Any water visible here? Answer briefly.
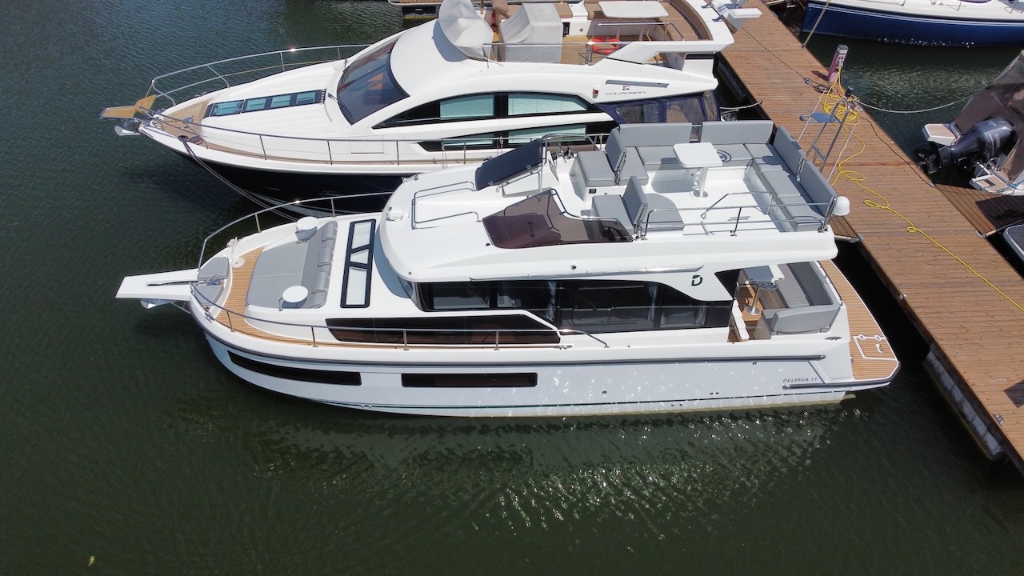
Yes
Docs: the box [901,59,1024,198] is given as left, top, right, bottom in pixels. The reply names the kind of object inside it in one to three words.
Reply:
boat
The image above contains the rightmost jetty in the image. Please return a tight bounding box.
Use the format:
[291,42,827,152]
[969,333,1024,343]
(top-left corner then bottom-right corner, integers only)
[929,184,1024,242]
